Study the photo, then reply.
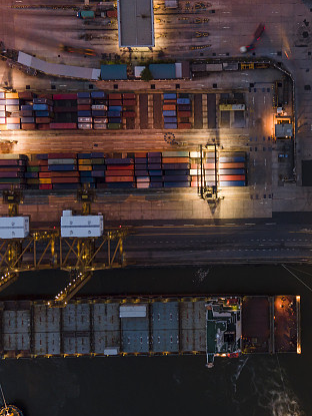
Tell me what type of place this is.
port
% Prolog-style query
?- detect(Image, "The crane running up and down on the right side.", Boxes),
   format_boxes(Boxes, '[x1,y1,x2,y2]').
[198,140,228,201]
